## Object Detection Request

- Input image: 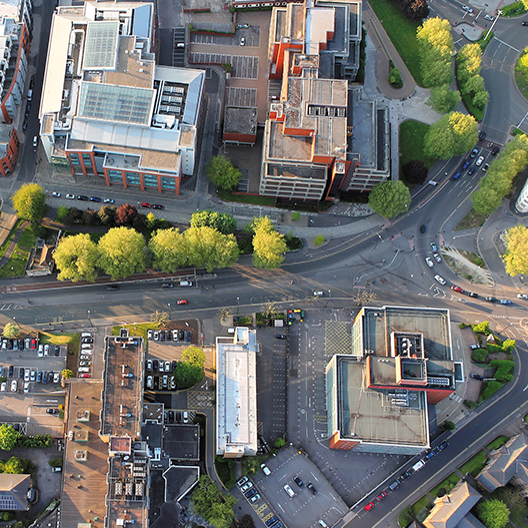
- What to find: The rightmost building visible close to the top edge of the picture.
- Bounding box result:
[257,0,390,202]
